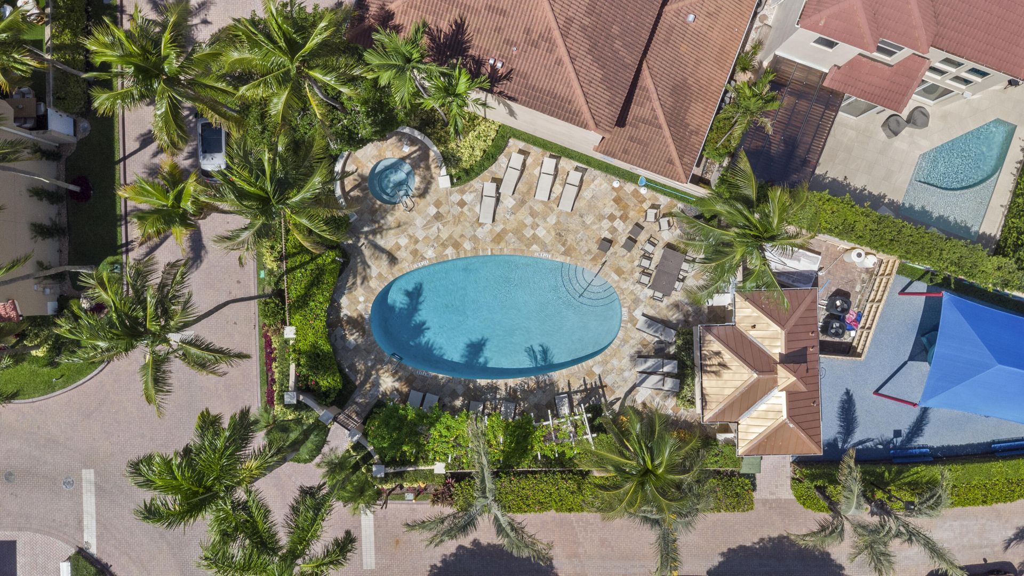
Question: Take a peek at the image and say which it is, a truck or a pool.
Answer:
pool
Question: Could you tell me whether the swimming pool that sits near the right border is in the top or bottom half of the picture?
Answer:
top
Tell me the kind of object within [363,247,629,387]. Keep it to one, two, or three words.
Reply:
swimming pool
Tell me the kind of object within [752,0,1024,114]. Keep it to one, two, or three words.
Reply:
house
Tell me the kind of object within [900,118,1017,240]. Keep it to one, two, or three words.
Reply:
swimming pool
